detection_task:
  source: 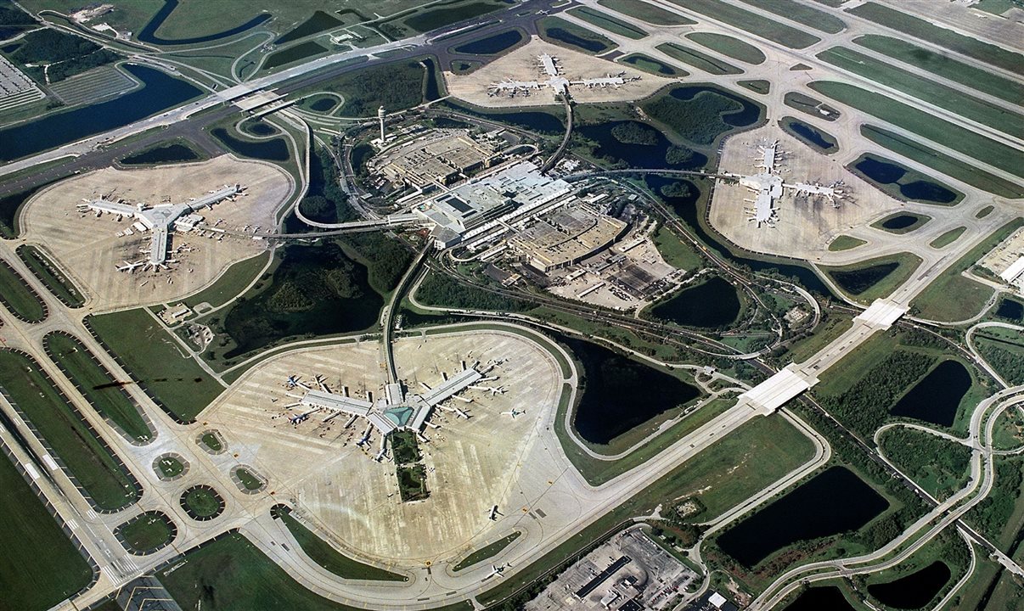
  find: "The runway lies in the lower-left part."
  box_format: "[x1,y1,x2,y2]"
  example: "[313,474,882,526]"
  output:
[0,394,141,584]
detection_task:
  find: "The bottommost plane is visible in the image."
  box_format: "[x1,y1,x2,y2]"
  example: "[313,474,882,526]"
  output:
[487,556,514,577]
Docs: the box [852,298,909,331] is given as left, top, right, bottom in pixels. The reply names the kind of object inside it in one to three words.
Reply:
bridge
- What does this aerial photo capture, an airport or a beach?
airport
